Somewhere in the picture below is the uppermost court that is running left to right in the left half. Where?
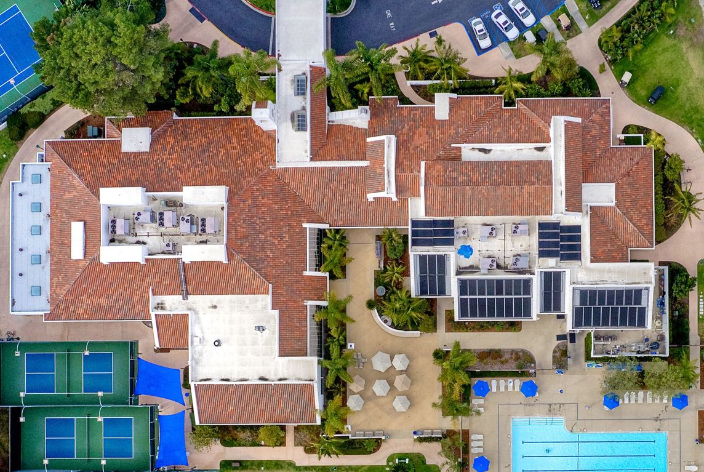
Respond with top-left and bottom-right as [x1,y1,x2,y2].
[1,343,138,406]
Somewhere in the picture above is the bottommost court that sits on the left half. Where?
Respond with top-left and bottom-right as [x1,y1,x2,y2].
[22,407,158,472]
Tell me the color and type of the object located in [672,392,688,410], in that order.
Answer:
blue umbrella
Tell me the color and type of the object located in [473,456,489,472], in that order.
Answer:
blue umbrella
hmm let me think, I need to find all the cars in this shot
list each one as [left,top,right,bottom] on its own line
[510,0,534,26]
[492,10,518,40]
[469,17,490,48]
